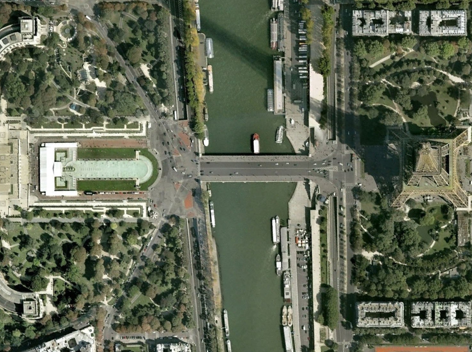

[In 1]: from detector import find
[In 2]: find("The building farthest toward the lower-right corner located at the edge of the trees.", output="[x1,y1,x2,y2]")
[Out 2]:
[411,302,471,328]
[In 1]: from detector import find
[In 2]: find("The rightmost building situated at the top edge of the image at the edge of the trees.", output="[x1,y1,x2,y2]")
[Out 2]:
[418,10,467,37]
